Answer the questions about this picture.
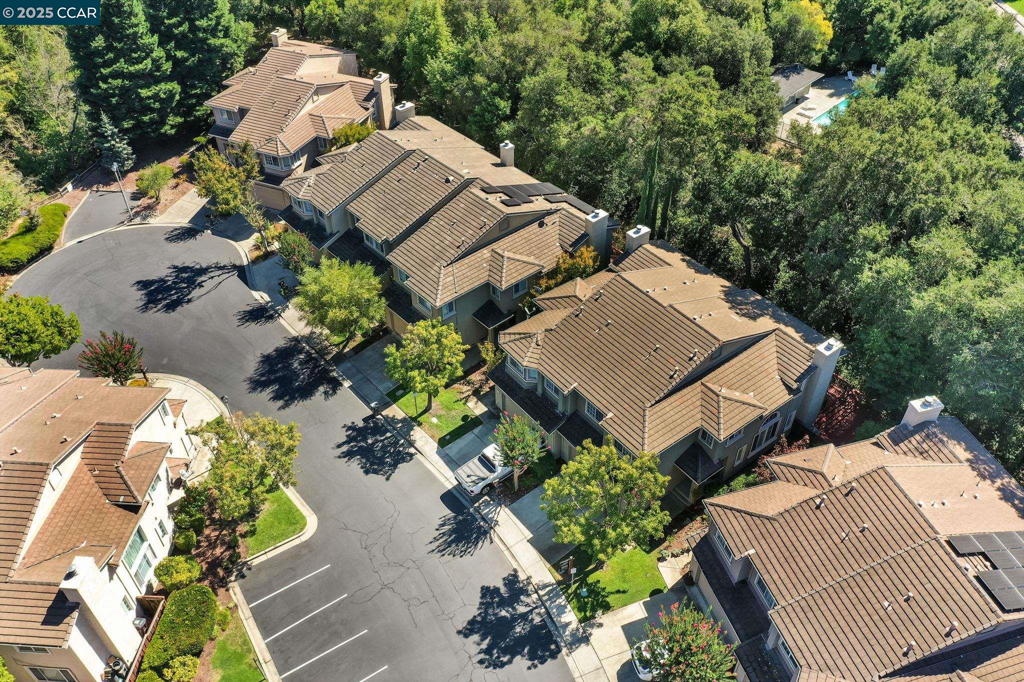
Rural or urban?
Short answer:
urban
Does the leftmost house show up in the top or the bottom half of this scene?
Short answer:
bottom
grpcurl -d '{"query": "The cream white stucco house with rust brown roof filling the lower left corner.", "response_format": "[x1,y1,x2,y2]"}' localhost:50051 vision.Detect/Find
[0,368,201,682]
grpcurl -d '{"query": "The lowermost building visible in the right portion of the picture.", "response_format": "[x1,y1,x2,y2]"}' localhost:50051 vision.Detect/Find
[683,385,1024,682]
